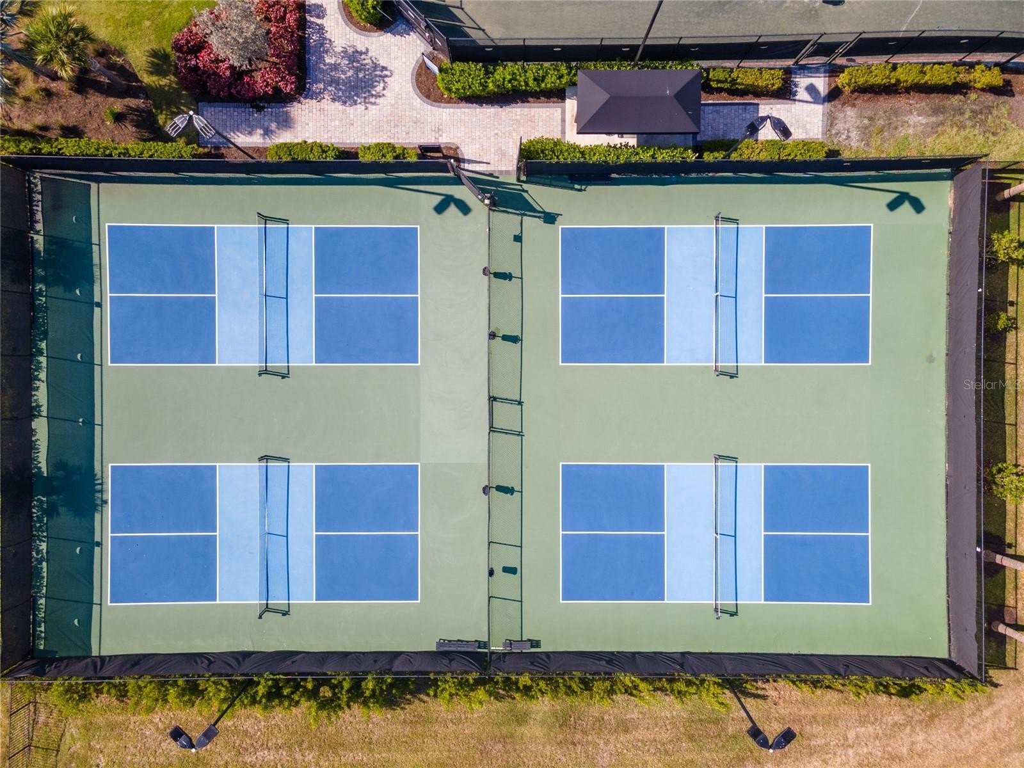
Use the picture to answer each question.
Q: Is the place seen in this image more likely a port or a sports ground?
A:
sports ground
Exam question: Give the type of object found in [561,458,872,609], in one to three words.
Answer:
sports court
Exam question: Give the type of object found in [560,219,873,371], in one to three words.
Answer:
sports court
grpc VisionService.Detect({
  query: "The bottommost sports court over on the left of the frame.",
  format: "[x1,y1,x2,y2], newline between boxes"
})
[108,458,420,609]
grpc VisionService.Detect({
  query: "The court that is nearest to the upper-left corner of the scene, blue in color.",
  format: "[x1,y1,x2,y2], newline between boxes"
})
[106,219,420,366]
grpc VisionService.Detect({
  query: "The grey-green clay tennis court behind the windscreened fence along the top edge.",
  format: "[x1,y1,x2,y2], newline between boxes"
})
[394,0,1024,68]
